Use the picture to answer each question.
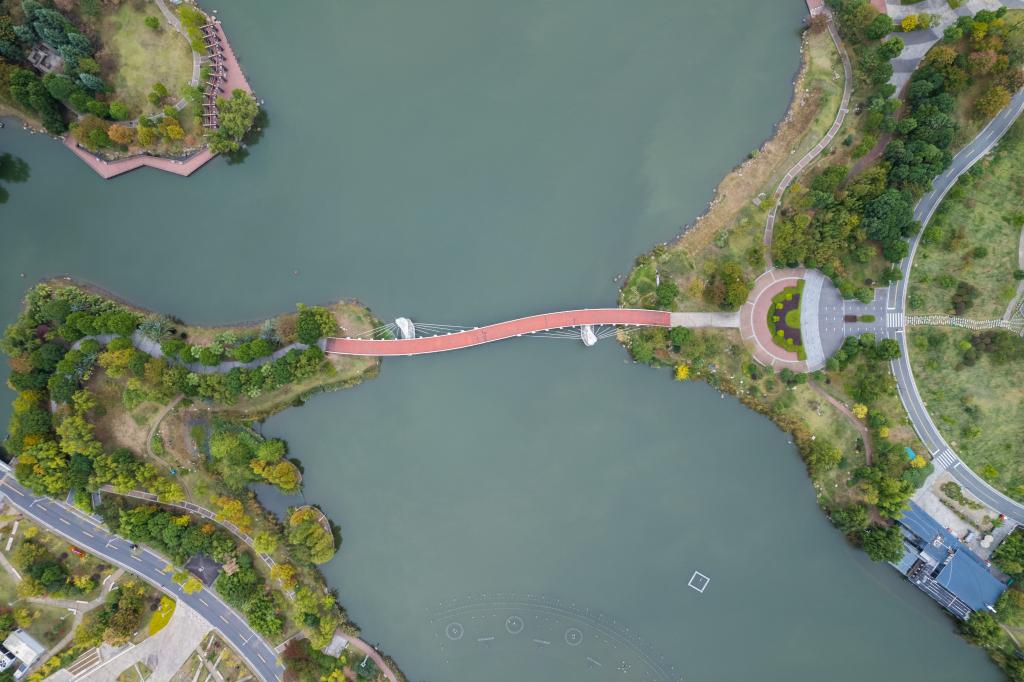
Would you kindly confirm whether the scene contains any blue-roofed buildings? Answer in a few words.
Yes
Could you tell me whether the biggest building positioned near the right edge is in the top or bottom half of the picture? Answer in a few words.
bottom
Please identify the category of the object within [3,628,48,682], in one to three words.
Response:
building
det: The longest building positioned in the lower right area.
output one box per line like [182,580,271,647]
[888,500,1006,622]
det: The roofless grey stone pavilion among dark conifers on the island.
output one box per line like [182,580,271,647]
[28,42,64,74]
